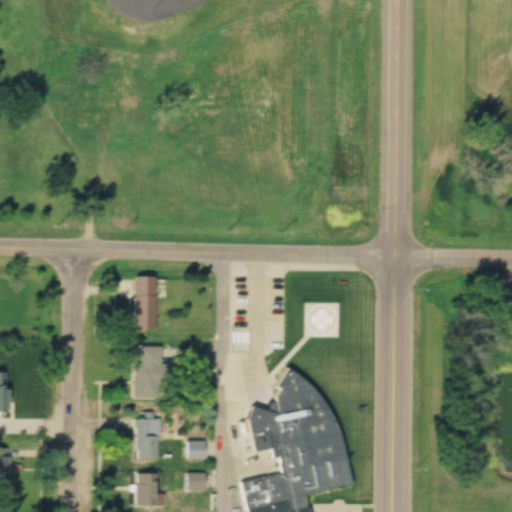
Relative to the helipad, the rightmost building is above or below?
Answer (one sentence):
Relative to the helipad, the rightmost building lies below it.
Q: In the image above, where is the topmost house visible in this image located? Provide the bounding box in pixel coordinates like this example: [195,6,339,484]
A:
[136,277,158,330]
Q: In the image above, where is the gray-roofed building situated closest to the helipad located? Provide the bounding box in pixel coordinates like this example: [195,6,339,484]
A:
[240,368,354,512]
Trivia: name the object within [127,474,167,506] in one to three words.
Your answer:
house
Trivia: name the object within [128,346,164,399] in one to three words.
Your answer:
house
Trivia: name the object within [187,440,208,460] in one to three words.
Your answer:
building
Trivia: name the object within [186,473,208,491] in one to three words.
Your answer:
building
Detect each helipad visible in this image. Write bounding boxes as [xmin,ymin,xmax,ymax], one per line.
[304,302,339,338]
